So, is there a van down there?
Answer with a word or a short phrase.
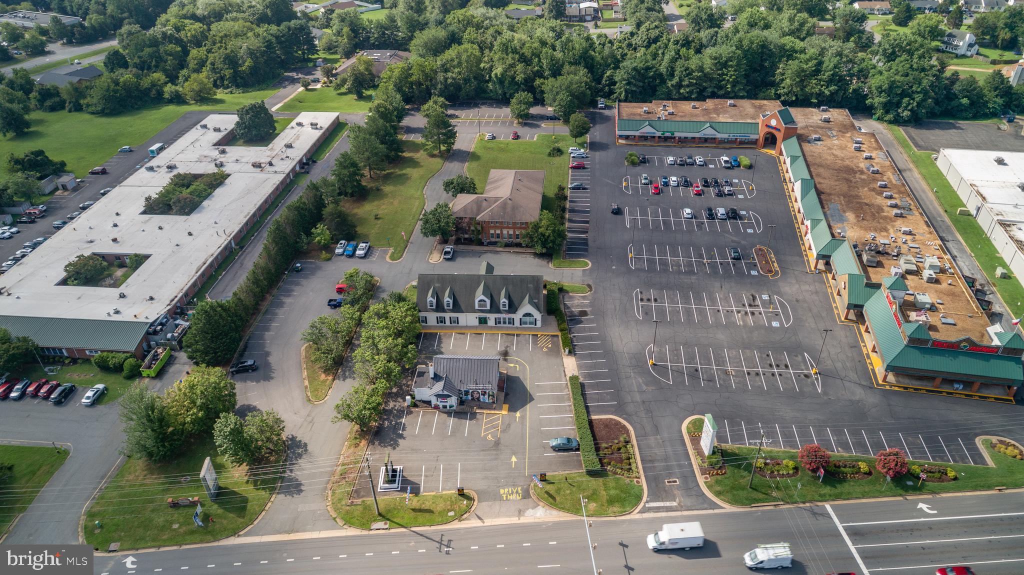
Yes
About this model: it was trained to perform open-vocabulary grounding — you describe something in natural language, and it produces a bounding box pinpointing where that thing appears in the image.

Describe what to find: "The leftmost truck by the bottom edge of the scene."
[648,519,706,550]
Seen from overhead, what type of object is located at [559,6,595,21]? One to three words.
house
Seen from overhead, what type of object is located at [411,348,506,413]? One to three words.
building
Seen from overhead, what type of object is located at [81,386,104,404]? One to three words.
car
